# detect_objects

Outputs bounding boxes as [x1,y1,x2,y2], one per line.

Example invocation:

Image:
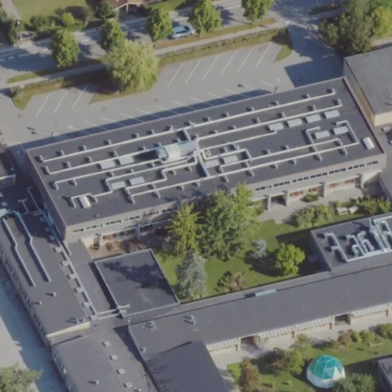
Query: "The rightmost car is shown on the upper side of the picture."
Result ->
[169,22,195,37]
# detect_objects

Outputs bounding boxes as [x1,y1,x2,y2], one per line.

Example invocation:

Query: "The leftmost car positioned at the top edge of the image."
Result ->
[128,3,142,18]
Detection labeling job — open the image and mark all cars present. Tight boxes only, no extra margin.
[128,3,142,18]
[169,22,195,37]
